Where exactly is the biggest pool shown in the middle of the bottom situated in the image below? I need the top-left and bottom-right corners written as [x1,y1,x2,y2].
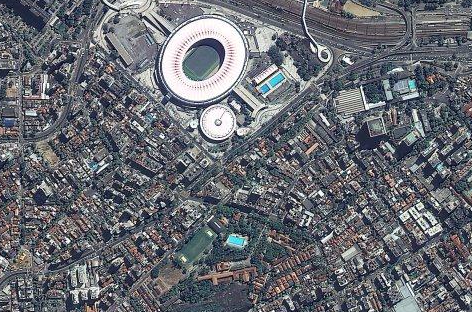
[227,234,247,248]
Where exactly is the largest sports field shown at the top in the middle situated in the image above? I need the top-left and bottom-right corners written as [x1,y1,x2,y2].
[183,40,224,80]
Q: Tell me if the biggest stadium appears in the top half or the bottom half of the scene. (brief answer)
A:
top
